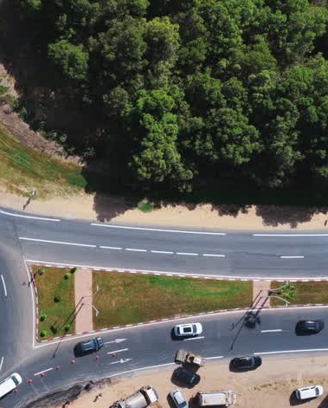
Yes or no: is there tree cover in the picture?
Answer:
Yes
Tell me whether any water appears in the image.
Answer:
No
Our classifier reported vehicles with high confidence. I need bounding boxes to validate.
[168,389,187,408]
[199,389,236,406]
[293,384,323,400]
[296,320,323,332]
[172,323,201,338]
[75,337,104,355]
[111,385,161,408]
[170,367,200,383]
[172,350,205,366]
[229,356,260,371]
[0,372,22,398]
